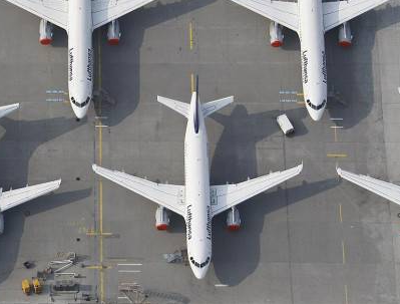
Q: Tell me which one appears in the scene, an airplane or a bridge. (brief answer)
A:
airplane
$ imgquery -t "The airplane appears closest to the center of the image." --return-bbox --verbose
[91,77,302,280]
